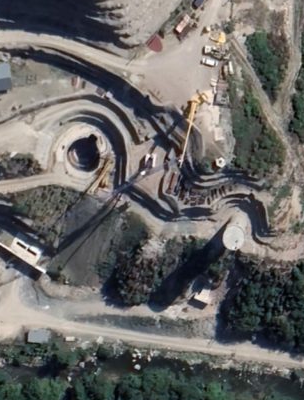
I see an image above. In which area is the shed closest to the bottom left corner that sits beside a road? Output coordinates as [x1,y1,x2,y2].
[27,328,50,345]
